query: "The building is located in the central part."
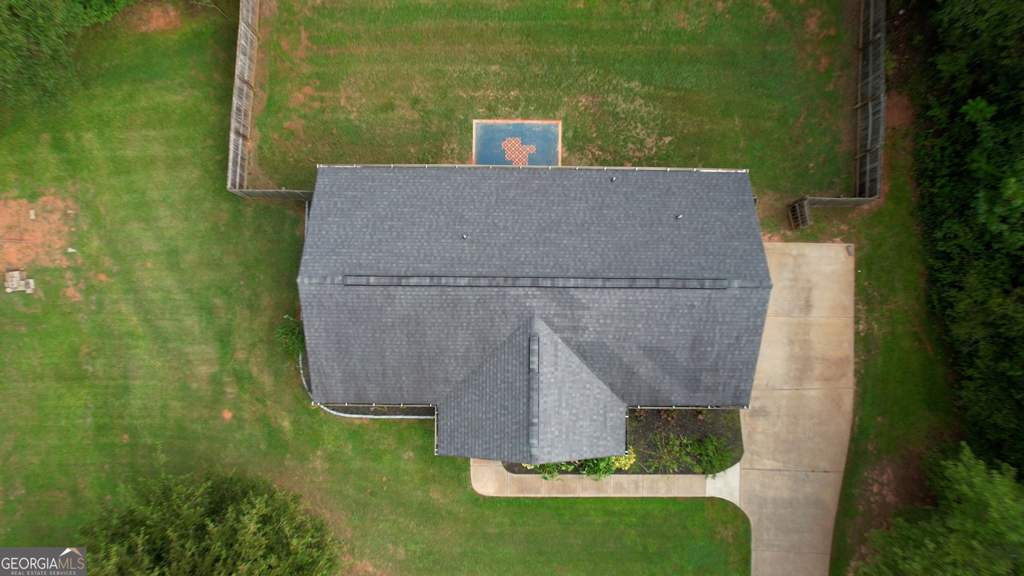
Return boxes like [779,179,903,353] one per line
[297,166,771,463]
